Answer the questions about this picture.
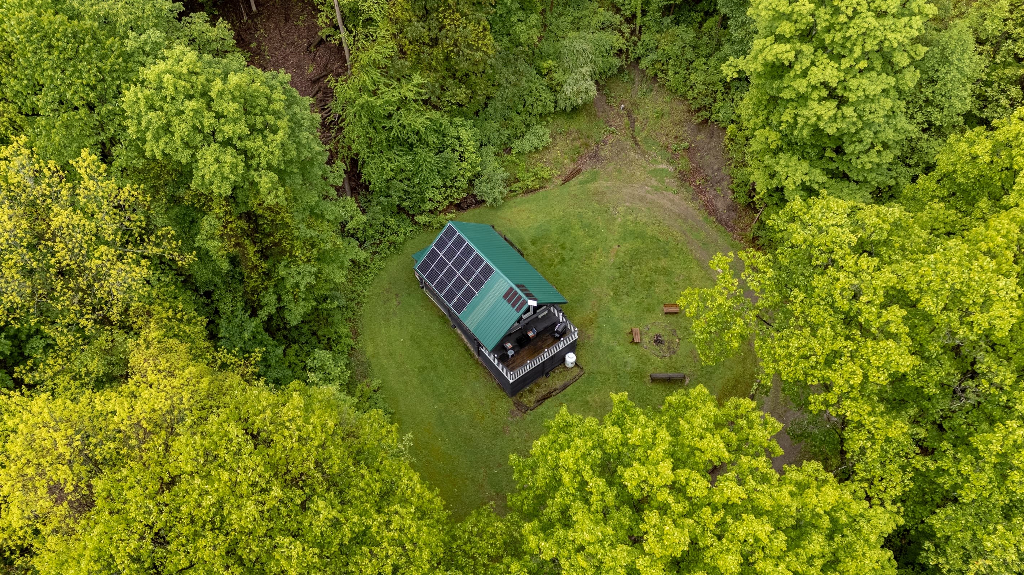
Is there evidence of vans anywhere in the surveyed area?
No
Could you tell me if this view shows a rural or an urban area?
rural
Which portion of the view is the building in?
center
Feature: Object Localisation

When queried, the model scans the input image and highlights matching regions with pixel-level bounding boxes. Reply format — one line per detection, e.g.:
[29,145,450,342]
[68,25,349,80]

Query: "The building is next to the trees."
[412,219,577,398]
